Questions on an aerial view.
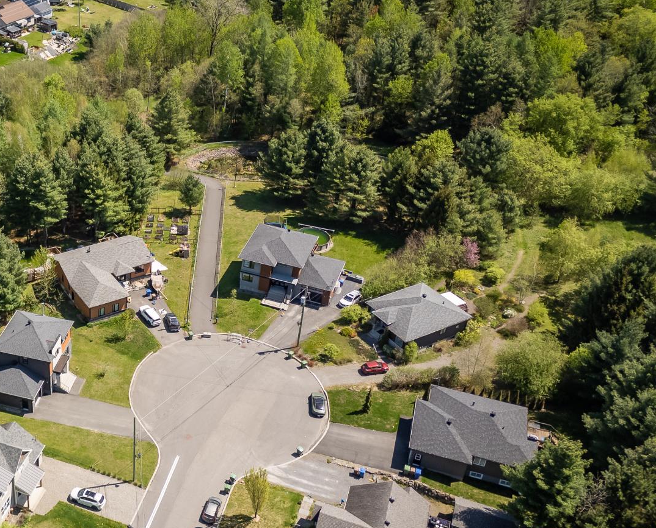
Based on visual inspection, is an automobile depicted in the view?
Yes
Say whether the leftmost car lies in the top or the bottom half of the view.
bottom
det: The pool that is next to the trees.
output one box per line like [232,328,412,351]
[301,222,339,247]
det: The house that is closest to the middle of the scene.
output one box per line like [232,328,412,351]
[237,222,343,310]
